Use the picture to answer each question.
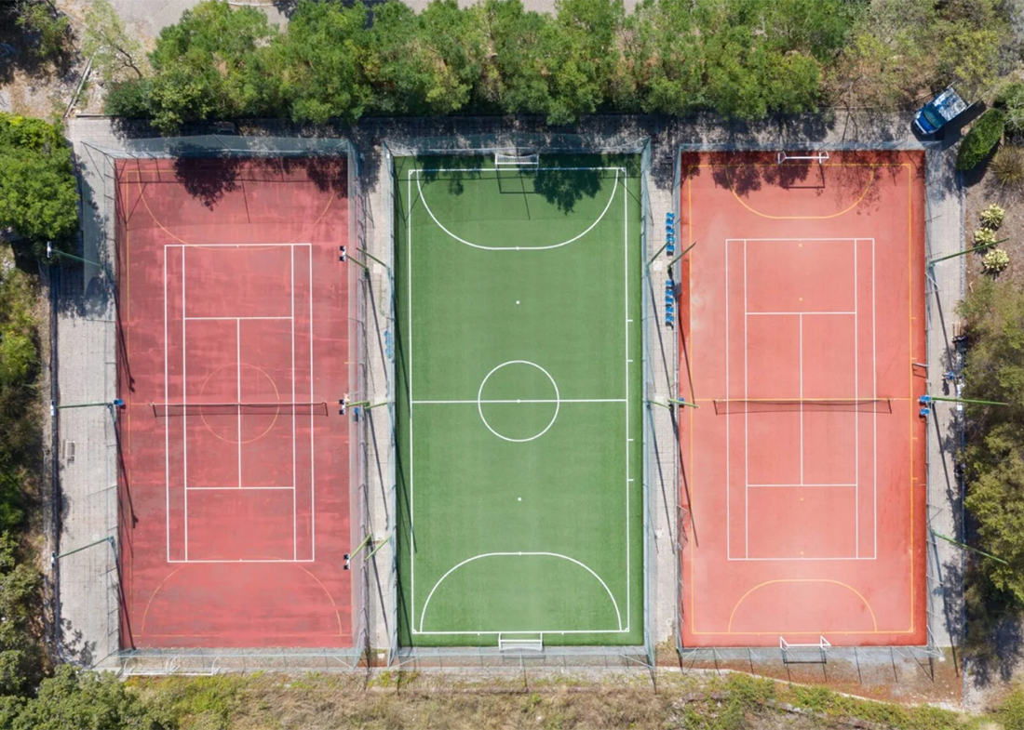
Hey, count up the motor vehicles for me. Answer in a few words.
1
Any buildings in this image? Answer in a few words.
No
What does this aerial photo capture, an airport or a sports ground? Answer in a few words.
sports ground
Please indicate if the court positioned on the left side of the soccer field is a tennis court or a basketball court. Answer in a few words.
tennis court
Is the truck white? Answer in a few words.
No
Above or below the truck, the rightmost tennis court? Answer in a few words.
below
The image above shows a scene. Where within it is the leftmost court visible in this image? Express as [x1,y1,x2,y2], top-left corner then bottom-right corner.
[115,155,352,649]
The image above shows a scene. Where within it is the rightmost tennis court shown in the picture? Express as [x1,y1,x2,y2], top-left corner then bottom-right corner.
[680,151,928,647]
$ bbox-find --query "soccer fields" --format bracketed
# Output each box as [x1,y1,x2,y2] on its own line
[394,155,644,648]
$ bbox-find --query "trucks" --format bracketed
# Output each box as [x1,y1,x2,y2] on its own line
[909,100,951,136]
